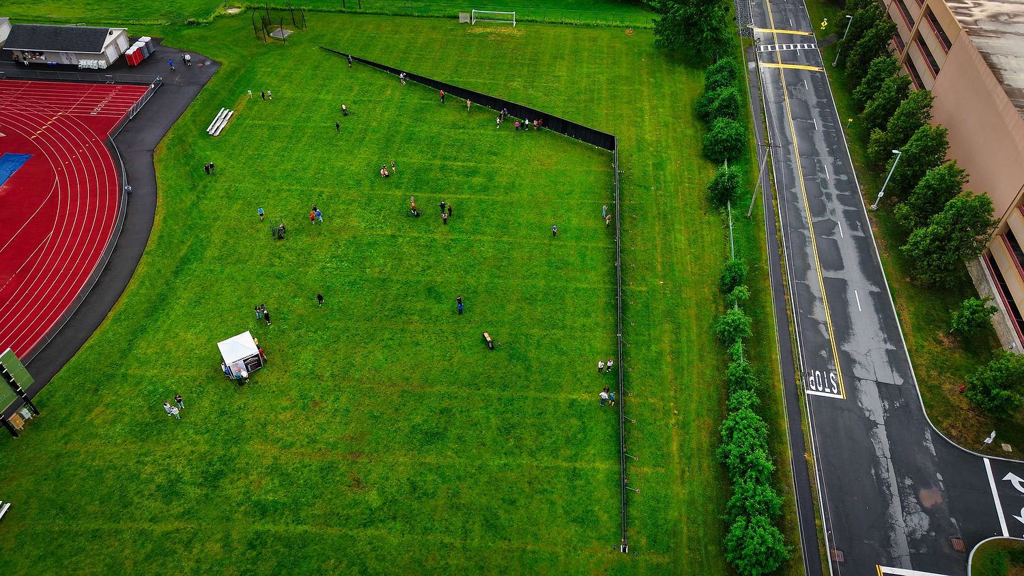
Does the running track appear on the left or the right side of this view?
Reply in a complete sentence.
It is on the left.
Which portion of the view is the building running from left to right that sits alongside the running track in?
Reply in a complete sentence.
The building running from left to right that sits alongside the running track is in the top left part of the image.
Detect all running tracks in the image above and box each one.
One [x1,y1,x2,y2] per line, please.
[0,79,155,363]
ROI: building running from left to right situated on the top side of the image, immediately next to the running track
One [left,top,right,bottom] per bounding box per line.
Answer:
[3,23,131,66]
